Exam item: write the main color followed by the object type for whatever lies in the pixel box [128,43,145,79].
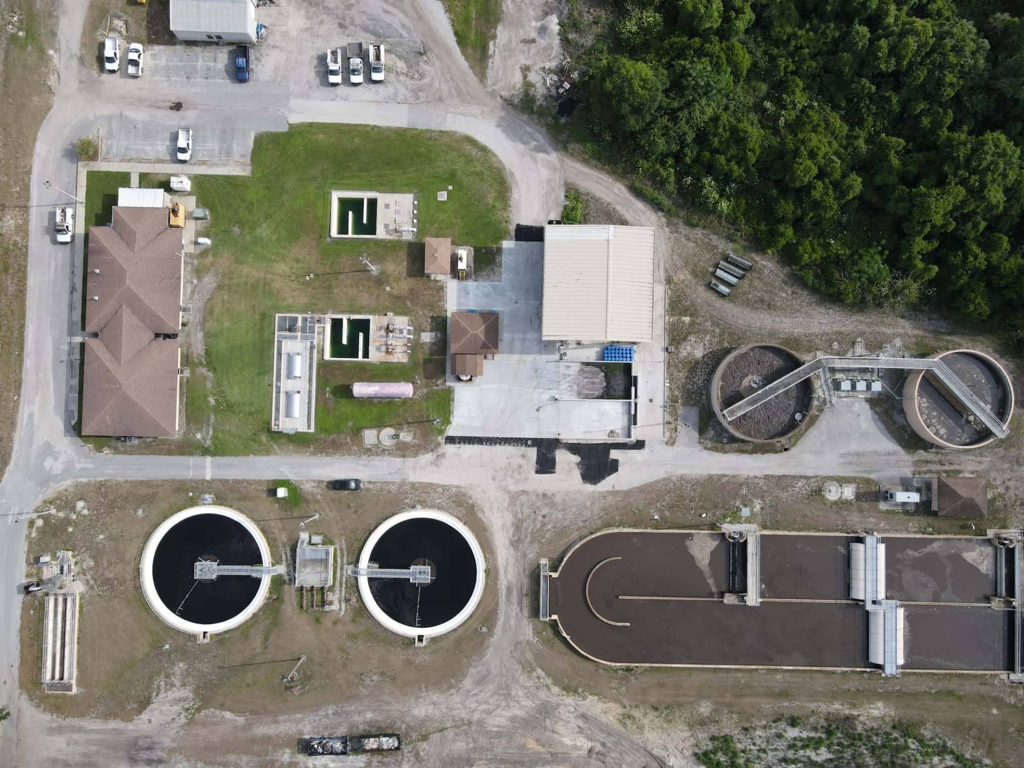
white vehicle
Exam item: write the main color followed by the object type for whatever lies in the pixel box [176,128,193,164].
white vehicle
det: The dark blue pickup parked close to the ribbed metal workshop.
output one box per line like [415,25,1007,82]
[234,47,250,82]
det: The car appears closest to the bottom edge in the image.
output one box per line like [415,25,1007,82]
[333,478,362,492]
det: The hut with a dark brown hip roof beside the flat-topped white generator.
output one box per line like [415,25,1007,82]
[930,477,988,518]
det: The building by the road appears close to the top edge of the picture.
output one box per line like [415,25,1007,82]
[170,0,260,48]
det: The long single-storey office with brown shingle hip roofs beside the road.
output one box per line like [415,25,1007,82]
[81,188,186,436]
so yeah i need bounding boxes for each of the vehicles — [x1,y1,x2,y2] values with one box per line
[327,49,341,86]
[56,208,74,244]
[234,47,250,82]
[176,128,193,164]
[369,43,384,83]
[348,43,362,84]
[138,0,152,14]
[333,478,362,492]
[128,43,145,79]
[104,38,120,73]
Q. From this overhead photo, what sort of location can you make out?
industrial area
